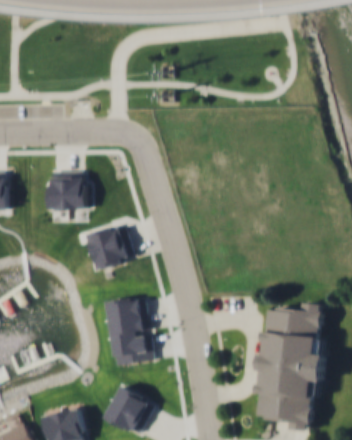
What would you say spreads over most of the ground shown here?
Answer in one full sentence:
What you mostly see from above here is grass.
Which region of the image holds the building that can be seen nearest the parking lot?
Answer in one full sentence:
The building that can be seen nearest the parking lot appears toward the bottom right of the photo.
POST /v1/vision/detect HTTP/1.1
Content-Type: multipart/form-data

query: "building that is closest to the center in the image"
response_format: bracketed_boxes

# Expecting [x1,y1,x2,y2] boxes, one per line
[86,227,136,270]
